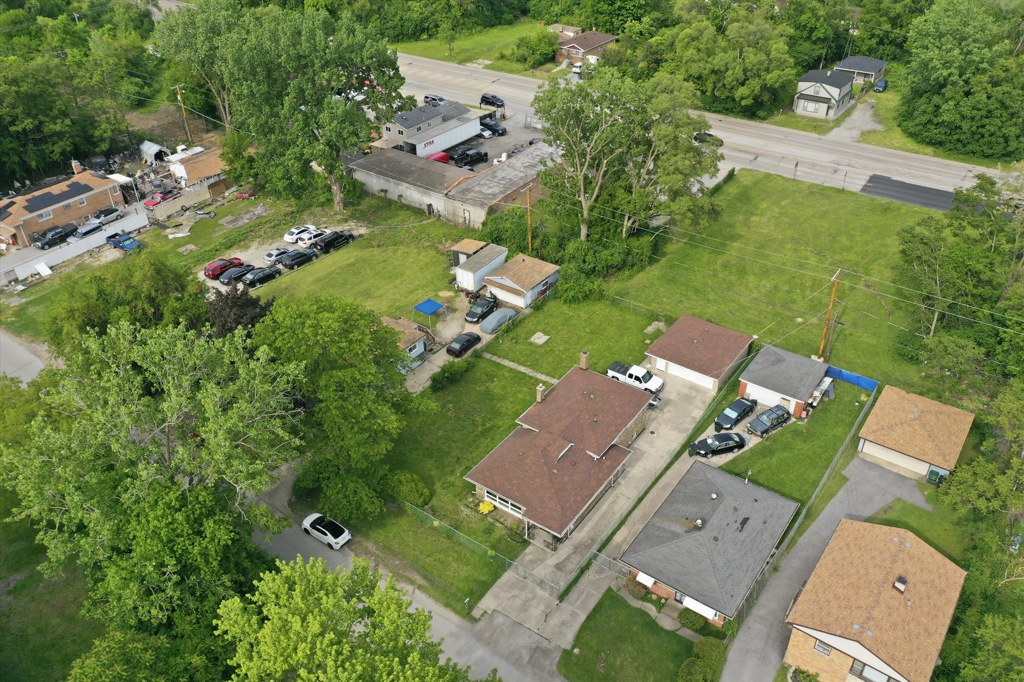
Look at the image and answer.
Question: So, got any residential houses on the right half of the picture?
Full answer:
Yes, a residential house appears on the right half of the picture.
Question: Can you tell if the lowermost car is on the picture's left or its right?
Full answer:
You can find the lowermost car on the left side of the picture.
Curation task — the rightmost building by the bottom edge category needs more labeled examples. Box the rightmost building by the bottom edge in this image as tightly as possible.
[782,518,969,682]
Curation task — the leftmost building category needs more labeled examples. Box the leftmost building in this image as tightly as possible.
[0,158,123,250]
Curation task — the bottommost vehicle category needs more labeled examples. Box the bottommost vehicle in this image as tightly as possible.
[300,513,351,548]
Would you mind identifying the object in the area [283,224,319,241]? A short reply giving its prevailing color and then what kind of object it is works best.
white car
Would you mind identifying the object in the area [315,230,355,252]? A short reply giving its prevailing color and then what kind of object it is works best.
black car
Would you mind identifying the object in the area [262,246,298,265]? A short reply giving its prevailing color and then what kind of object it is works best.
gray car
